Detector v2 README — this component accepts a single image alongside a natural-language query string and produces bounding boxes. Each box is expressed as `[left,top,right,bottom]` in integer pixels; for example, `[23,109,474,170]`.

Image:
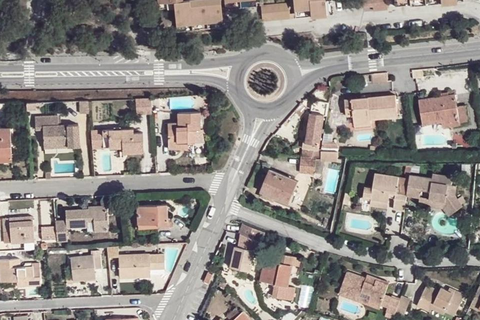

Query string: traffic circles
[228,44,302,118]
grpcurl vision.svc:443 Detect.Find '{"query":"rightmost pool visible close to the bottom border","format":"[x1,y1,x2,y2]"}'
[340,299,364,314]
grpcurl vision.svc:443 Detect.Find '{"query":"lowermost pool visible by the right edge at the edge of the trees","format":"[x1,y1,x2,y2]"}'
[432,212,456,236]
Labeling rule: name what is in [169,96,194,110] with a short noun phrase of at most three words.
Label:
swimming pool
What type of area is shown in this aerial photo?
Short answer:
residential area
